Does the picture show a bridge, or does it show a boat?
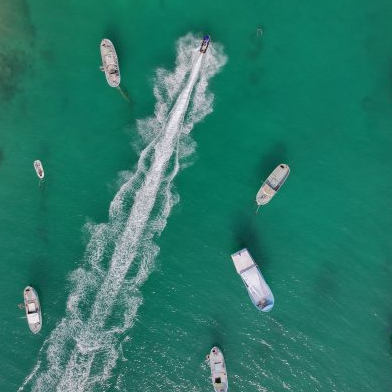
boat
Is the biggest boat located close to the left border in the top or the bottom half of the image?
bottom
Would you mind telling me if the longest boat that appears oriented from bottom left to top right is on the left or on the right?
right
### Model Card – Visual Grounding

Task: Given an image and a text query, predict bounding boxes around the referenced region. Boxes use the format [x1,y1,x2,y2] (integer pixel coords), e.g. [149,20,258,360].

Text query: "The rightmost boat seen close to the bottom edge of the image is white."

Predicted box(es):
[207,345,228,392]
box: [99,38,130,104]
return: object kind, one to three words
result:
boat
